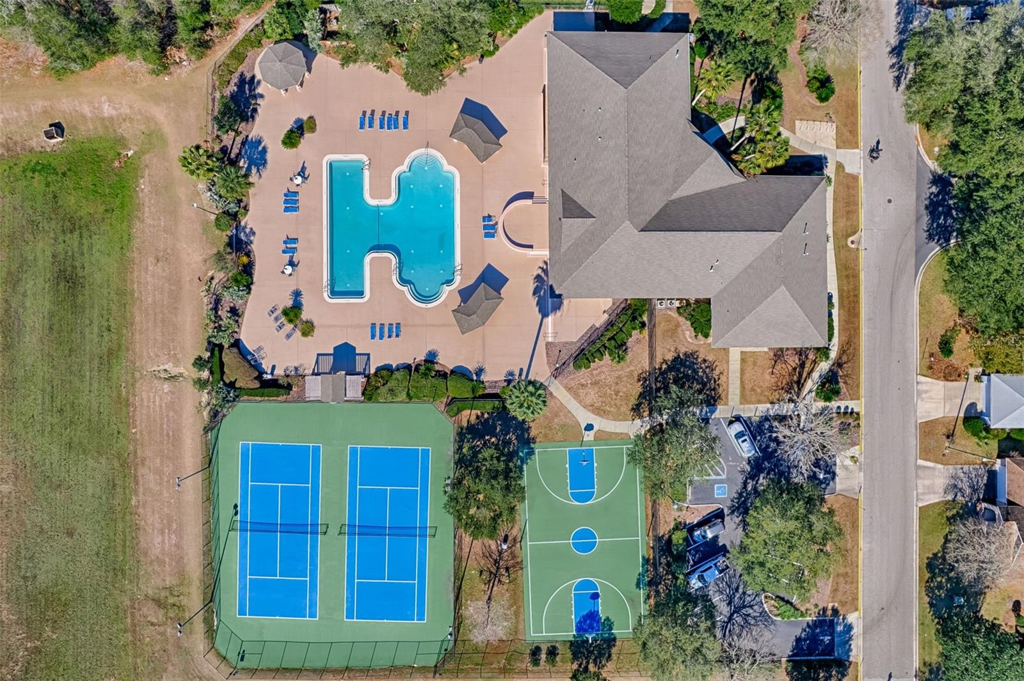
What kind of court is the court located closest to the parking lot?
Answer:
basketball court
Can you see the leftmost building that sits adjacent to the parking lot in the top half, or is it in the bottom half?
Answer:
top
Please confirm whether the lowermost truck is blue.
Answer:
Yes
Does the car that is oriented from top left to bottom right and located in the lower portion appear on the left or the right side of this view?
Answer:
right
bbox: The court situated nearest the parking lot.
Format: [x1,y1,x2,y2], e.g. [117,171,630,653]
[519,439,650,642]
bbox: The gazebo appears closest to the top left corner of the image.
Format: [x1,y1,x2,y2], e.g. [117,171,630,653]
[259,42,314,98]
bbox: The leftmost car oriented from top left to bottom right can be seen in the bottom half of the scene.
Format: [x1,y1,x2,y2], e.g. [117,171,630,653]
[728,421,759,458]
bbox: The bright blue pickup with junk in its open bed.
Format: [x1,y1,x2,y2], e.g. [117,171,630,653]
[687,555,731,590]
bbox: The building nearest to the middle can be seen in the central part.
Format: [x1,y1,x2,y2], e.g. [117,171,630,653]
[452,282,504,335]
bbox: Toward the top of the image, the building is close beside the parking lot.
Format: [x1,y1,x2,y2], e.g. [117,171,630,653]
[547,31,827,348]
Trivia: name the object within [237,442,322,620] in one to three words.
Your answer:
tennis court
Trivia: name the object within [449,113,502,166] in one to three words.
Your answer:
building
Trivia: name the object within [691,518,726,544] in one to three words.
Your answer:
car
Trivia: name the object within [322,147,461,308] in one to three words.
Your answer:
swimming pool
